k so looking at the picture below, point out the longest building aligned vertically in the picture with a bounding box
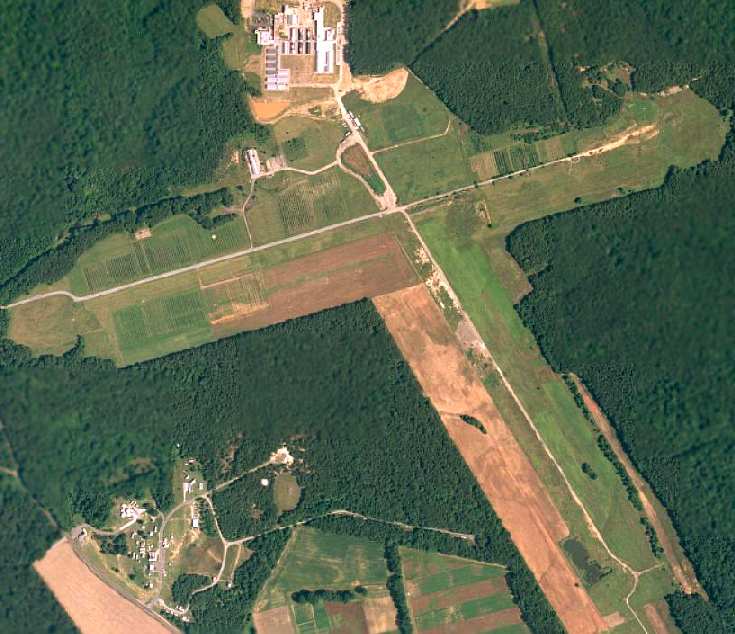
[317,19,334,72]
